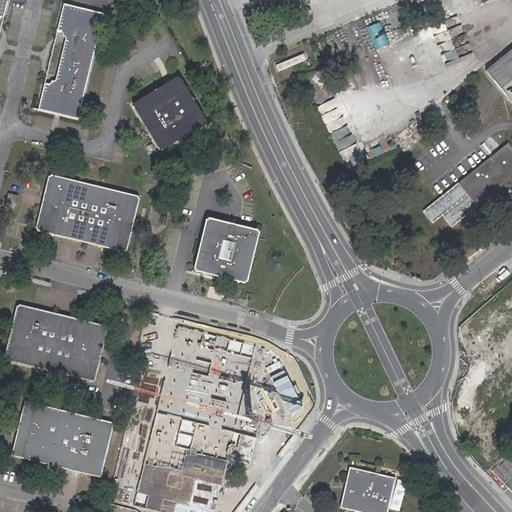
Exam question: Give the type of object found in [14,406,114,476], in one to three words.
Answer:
building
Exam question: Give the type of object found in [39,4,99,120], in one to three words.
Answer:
building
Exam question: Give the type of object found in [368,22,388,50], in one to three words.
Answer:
shed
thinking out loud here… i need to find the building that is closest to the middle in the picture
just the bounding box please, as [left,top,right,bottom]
[196,218,261,282]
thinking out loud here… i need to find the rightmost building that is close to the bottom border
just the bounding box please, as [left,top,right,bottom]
[338,466,404,512]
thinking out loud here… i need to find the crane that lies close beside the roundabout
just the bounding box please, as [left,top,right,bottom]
[106,378,313,440]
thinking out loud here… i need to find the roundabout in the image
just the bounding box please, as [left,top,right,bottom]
[276,254,468,441]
